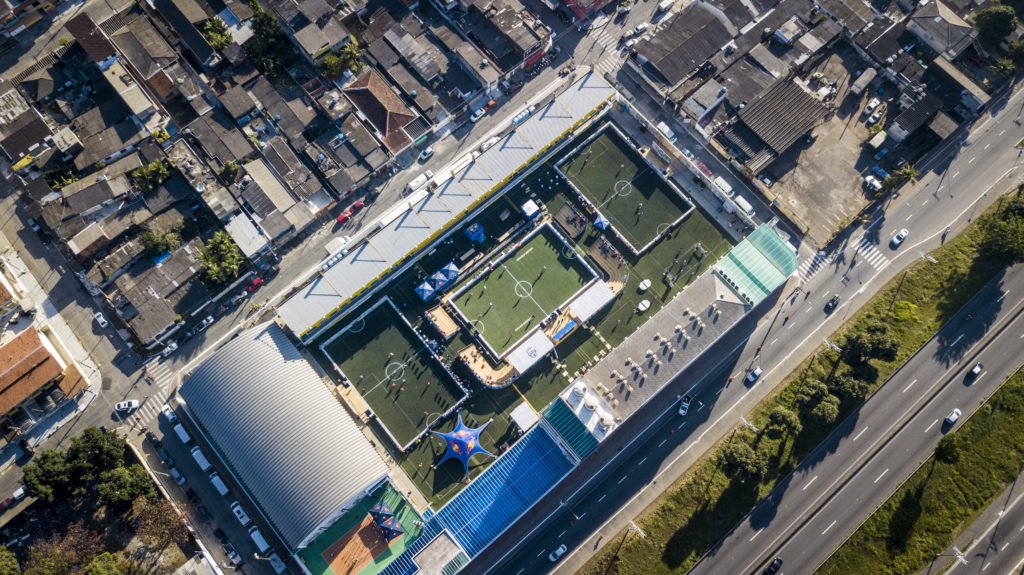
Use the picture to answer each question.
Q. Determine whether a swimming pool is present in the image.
No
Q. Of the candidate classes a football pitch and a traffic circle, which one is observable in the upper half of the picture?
football pitch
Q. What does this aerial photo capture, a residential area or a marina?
residential area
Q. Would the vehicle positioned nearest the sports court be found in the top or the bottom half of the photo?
bottom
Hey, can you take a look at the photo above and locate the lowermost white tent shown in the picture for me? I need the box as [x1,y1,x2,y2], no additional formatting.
[510,401,539,433]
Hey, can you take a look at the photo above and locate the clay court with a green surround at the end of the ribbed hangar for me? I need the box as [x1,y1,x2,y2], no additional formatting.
[292,478,424,575]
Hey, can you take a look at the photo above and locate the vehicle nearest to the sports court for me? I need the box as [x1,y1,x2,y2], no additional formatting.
[267,549,291,575]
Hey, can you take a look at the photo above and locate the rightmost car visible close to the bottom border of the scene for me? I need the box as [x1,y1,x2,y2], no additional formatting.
[763,555,785,575]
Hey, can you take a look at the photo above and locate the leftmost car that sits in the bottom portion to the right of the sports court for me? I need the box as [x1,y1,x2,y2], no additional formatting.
[547,541,569,563]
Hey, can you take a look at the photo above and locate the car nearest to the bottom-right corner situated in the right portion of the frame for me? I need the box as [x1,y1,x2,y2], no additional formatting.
[943,405,964,425]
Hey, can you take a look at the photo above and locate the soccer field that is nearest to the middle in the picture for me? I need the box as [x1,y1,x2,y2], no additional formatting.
[448,219,602,360]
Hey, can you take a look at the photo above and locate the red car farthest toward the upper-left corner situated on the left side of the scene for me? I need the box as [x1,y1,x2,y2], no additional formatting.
[245,276,266,293]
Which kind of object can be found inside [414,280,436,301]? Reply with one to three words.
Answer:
gazebo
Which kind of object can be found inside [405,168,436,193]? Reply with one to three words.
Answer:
truck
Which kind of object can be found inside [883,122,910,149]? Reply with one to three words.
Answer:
house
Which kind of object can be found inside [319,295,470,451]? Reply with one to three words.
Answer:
soccer field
